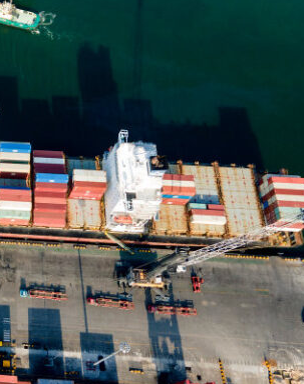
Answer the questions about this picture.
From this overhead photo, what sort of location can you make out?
port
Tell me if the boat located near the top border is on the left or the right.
left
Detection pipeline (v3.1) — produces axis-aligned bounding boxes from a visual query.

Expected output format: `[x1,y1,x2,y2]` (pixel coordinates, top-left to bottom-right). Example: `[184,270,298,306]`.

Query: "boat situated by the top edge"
[0,0,42,32]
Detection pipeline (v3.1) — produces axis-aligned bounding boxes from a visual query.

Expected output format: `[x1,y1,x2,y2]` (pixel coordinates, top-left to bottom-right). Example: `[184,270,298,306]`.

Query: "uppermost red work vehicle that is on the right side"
[189,272,202,292]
